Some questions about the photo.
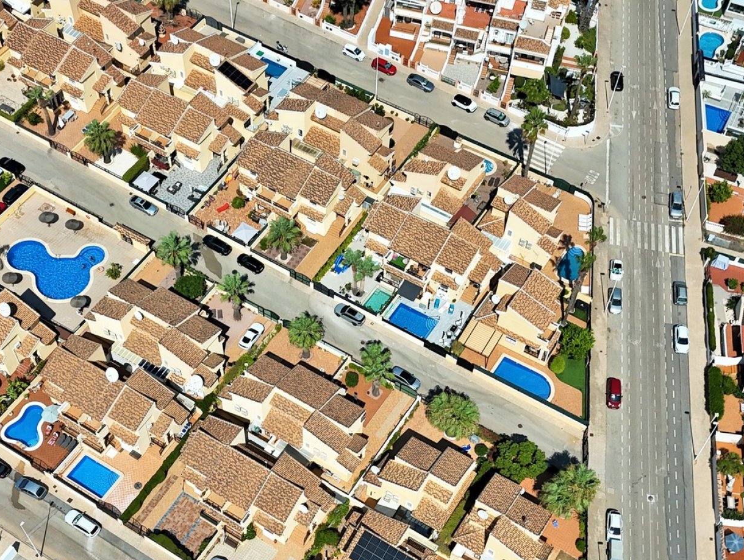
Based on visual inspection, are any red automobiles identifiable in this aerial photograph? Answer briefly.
Yes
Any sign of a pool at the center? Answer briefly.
Yes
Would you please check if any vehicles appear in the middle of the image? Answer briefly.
Yes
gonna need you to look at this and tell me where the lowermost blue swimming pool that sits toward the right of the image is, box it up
[493,359,553,399]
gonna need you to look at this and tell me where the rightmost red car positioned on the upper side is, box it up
[370,57,397,77]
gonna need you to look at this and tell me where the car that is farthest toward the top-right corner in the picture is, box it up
[666,87,681,111]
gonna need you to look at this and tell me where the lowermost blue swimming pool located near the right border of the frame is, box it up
[705,104,733,134]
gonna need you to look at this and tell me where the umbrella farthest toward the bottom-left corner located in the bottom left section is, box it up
[34,399,58,421]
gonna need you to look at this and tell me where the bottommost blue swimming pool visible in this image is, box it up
[63,453,123,502]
